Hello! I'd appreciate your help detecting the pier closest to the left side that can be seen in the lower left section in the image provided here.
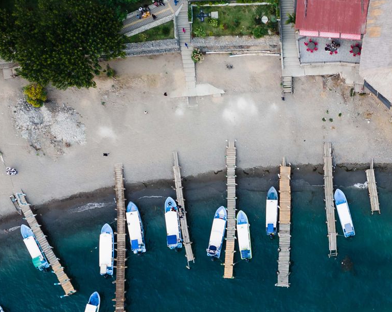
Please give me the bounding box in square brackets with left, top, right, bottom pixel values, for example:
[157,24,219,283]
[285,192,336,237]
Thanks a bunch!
[15,193,75,298]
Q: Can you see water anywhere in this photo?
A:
Yes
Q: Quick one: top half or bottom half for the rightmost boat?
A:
bottom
